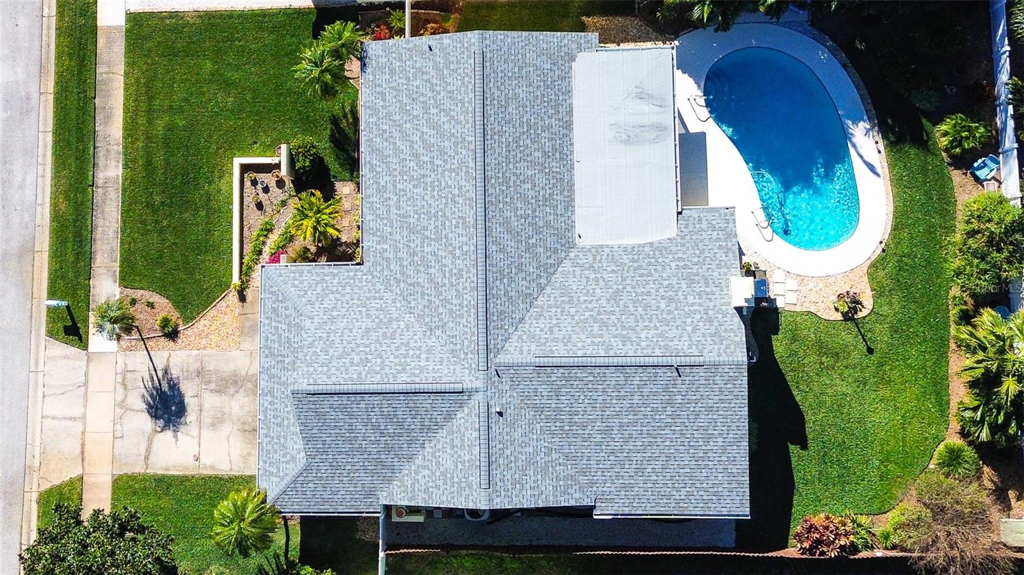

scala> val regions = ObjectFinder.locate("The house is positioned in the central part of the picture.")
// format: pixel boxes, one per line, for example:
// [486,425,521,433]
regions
[254,30,754,520]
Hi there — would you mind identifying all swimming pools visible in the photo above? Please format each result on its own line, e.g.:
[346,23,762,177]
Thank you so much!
[701,43,863,253]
